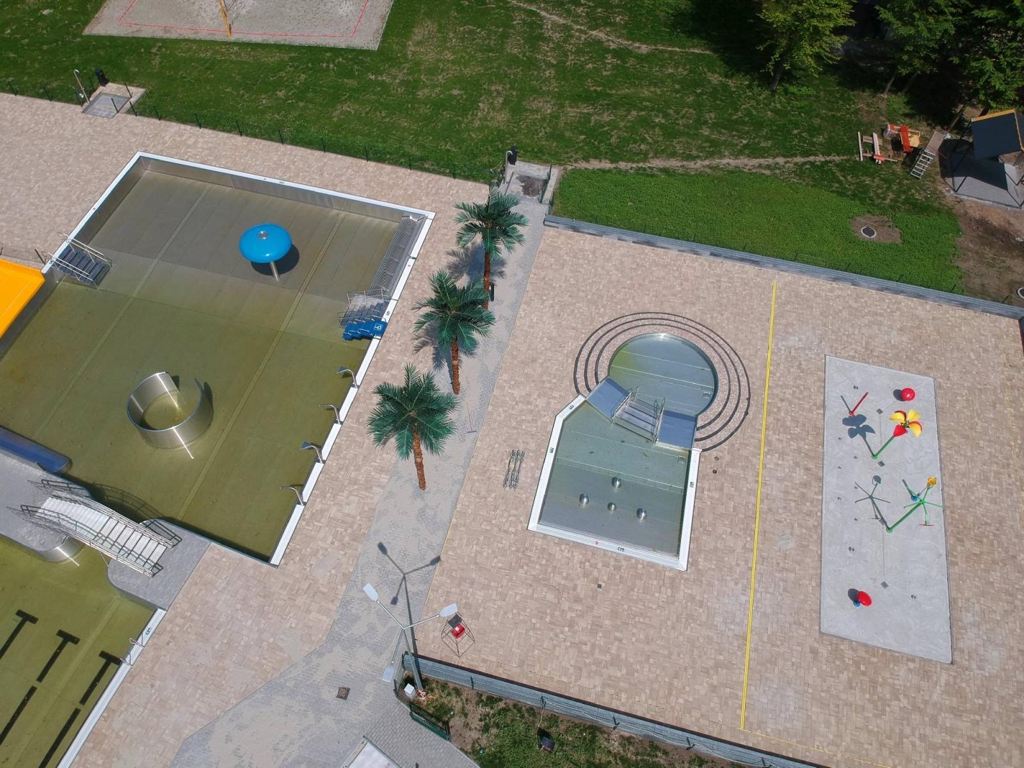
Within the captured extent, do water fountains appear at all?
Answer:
Yes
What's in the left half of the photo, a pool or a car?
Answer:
pool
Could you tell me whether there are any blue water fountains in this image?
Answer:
Yes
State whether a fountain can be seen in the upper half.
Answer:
Yes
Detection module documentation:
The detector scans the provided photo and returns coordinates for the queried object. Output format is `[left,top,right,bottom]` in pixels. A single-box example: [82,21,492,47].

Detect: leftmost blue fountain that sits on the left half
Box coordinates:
[238,221,292,283]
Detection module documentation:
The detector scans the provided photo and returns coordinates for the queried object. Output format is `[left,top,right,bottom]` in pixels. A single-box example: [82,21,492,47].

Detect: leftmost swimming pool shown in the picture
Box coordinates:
[0,578,168,768]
